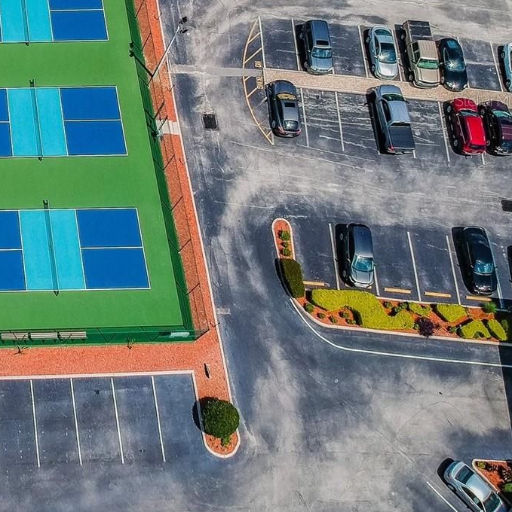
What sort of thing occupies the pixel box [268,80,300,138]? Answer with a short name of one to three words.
car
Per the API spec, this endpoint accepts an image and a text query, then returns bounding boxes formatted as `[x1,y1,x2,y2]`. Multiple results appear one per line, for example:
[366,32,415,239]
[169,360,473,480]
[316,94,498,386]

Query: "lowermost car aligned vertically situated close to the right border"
[459,227,501,295]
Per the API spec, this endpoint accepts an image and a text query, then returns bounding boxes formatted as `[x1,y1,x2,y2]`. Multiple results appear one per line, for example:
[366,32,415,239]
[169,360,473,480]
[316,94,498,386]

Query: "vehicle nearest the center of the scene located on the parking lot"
[343,224,381,287]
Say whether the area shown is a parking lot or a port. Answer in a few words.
parking lot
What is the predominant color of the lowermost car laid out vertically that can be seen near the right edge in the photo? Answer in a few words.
black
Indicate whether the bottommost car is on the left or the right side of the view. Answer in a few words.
right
